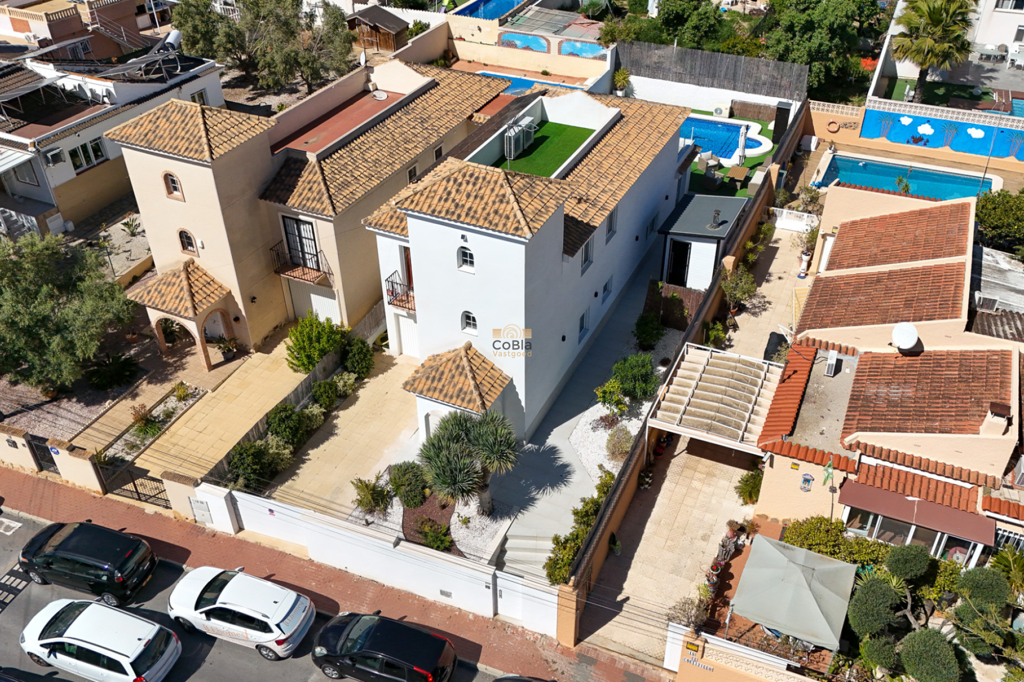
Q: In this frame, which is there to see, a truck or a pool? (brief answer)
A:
pool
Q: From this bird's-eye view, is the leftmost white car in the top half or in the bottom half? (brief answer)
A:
bottom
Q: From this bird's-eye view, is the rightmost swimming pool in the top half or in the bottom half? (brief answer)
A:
top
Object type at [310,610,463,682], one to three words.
car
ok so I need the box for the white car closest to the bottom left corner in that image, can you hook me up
[19,596,186,682]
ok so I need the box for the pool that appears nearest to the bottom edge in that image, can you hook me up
[817,147,1006,216]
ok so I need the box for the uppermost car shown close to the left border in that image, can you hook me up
[17,518,169,612]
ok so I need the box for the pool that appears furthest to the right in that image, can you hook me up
[991,99,1024,129]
